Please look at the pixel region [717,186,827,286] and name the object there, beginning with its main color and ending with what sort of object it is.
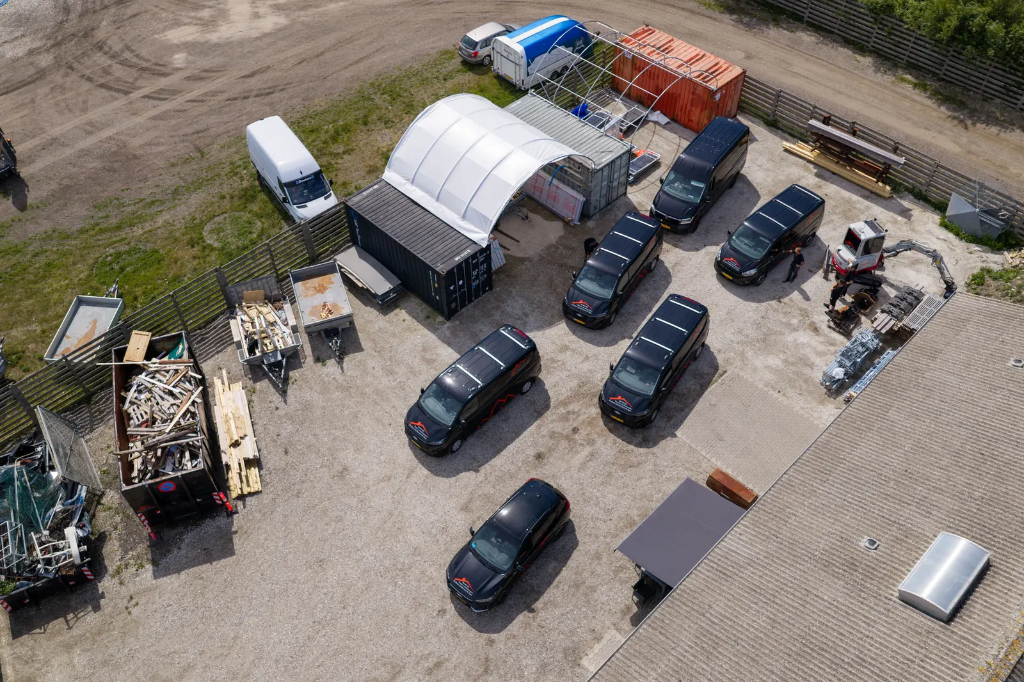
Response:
black van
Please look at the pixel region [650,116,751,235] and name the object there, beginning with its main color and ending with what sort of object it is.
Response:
black van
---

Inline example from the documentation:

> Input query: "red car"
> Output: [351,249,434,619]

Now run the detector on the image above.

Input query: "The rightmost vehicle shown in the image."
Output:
[823,216,948,296]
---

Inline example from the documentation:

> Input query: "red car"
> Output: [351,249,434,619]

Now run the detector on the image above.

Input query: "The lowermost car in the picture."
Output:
[450,480,572,608]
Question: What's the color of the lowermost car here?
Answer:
black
